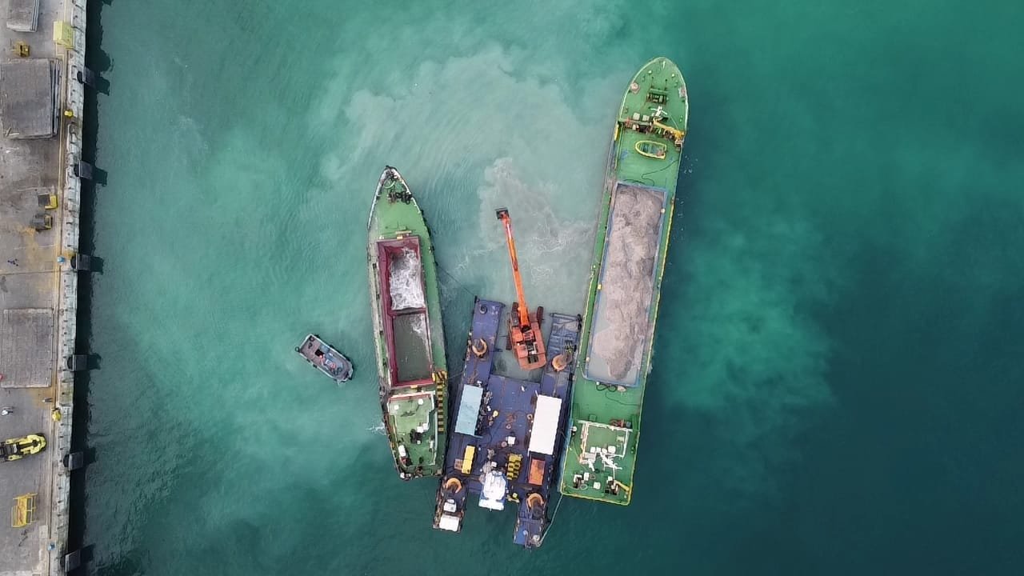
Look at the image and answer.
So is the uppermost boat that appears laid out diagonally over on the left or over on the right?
left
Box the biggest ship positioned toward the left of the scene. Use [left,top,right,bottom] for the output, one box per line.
[367,163,451,480]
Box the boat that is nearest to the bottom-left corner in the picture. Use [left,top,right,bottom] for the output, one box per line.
[295,332,356,385]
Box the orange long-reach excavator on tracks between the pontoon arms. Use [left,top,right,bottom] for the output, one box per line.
[494,205,547,370]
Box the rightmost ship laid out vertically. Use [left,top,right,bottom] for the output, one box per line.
[559,57,689,506]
